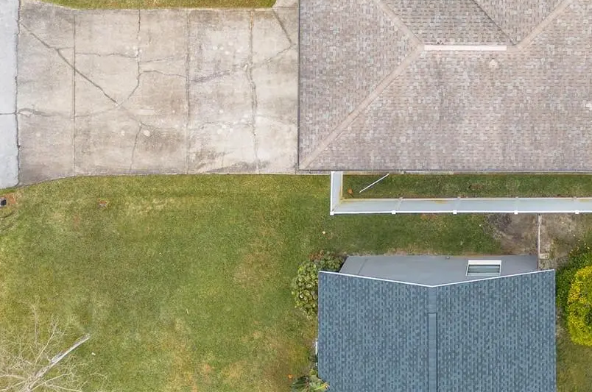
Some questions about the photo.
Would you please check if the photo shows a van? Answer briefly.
No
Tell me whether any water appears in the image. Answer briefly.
No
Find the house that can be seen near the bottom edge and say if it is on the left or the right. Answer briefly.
right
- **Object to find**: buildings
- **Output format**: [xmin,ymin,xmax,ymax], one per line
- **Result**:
[298,0,592,176]
[313,256,554,392]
